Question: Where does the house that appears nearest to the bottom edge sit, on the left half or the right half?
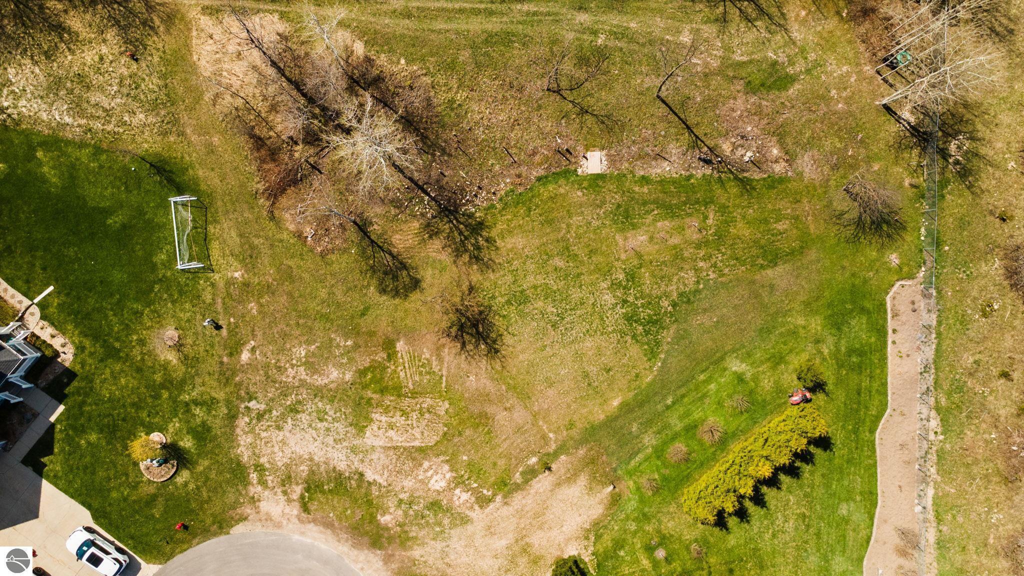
left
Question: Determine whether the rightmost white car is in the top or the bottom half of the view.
bottom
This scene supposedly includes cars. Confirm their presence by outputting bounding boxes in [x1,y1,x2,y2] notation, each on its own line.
[64,524,131,576]
[16,567,45,576]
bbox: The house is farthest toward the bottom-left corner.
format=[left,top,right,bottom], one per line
[0,321,44,403]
